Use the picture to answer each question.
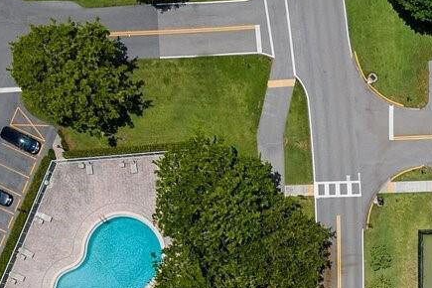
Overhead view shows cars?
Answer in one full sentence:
Yes, you can see a car in this photo.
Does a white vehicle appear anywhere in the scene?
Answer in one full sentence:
No, the frame has no white vehicle in it.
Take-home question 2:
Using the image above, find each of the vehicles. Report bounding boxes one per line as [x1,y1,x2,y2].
[1,127,42,154]
[0,189,15,206]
